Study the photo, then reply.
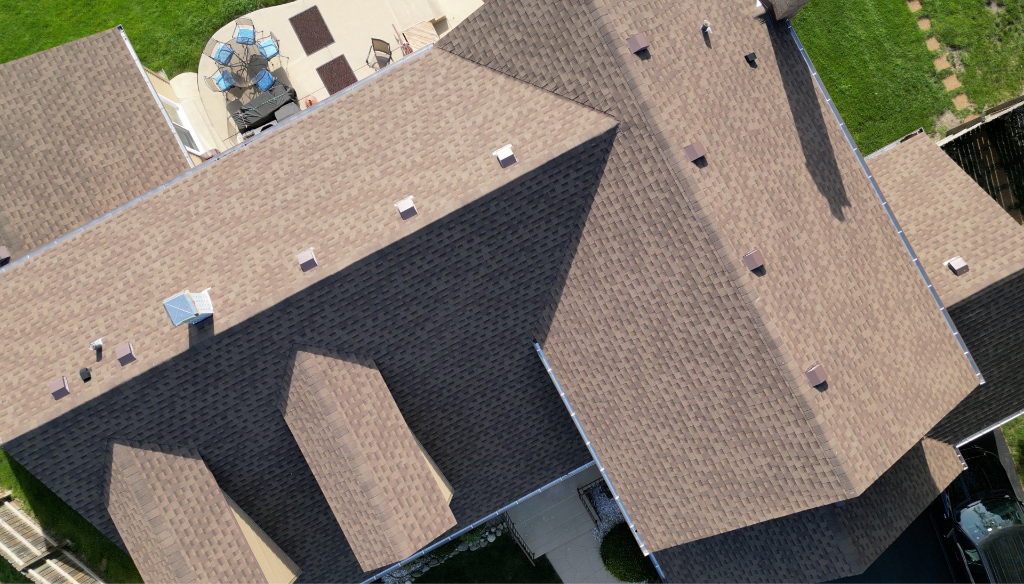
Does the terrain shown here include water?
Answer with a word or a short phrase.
No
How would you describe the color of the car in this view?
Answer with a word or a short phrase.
black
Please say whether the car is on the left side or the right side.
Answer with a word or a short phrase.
right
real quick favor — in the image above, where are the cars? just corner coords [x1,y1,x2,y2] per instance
[932,440,1024,584]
